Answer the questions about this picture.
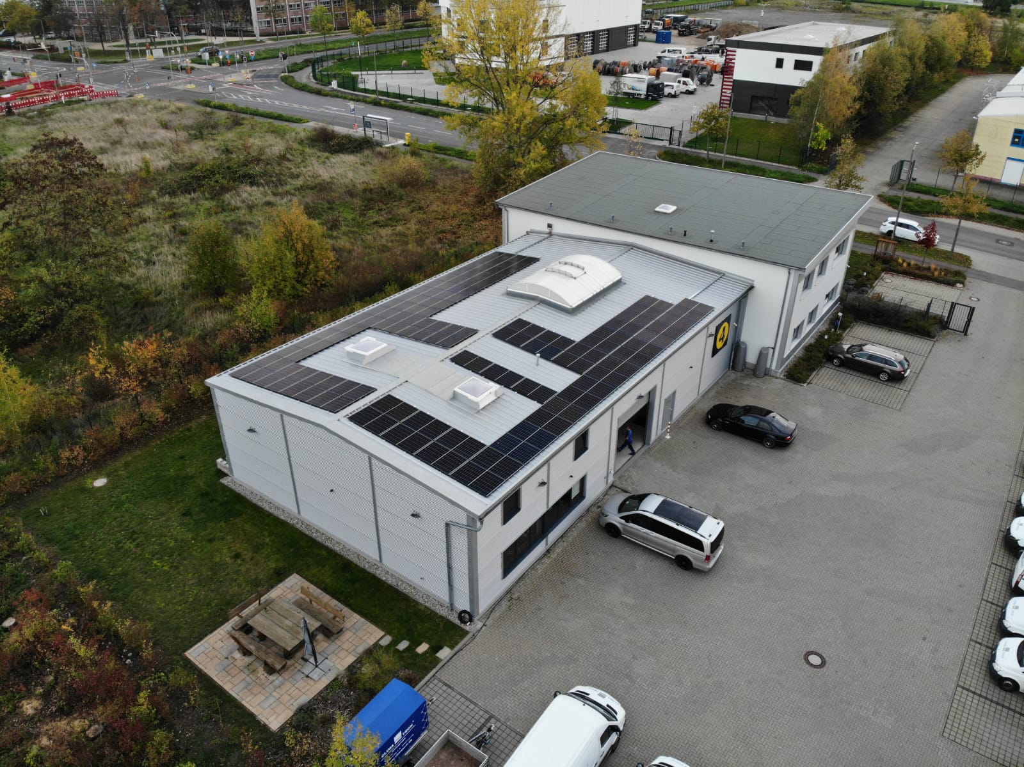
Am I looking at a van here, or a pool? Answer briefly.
van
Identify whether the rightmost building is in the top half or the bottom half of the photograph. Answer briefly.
top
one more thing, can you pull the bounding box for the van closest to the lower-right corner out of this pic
[986,645,1024,702]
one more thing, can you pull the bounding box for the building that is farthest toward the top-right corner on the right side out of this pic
[964,73,1024,183]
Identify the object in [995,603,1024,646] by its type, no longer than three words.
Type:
van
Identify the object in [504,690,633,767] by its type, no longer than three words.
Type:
van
